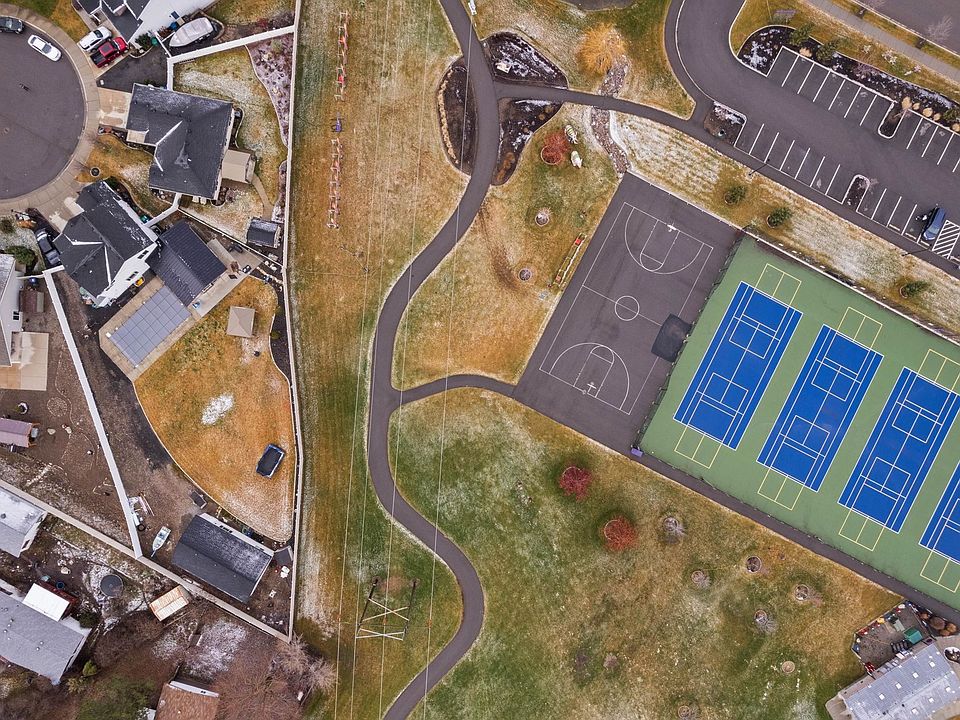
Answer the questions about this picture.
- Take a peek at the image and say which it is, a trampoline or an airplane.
trampoline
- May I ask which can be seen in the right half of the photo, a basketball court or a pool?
basketball court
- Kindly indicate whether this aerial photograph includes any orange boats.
No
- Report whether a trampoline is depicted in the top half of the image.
No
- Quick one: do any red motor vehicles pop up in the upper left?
Yes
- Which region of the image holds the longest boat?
top left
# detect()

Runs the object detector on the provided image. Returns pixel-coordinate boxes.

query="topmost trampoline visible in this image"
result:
[257,444,283,477]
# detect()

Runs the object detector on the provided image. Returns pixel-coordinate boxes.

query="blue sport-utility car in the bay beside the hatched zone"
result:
[924,206,953,240]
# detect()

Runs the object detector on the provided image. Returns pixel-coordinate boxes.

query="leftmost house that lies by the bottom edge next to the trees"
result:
[0,580,88,686]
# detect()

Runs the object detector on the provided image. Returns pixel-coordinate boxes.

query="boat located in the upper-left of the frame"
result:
[162,13,212,50]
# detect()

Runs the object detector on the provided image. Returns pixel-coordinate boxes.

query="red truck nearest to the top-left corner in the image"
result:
[87,36,127,65]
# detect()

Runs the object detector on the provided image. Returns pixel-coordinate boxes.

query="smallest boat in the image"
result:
[151,528,169,554]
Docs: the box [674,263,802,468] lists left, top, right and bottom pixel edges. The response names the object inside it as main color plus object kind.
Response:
blue sports court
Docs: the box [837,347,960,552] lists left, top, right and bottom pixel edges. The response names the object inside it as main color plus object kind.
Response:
blue sports court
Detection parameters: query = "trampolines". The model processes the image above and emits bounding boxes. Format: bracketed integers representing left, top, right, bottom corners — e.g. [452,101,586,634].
[257,444,283,477]
[98,574,123,597]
